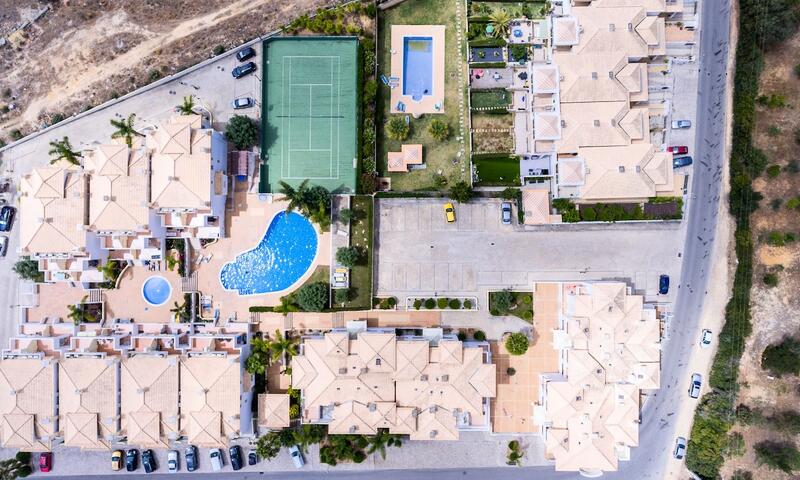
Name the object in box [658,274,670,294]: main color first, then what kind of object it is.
blue vehicle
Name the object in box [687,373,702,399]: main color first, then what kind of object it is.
white car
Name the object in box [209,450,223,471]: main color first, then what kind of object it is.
white vehicle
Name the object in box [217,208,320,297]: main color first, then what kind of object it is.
blue swimming pool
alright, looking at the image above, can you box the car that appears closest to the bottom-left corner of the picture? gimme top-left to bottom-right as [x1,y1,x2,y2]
[40,452,52,471]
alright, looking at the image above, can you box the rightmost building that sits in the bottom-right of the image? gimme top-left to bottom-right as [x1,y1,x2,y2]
[529,282,660,480]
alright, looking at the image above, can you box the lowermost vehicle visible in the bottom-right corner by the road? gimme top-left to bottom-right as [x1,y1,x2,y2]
[673,435,687,459]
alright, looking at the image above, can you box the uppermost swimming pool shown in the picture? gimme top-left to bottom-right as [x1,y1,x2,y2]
[390,25,445,118]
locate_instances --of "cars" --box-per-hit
[673,156,692,167]
[209,450,223,471]
[141,450,157,473]
[229,446,242,471]
[40,452,52,471]
[687,373,702,399]
[0,206,16,230]
[233,97,254,109]
[501,202,511,224]
[167,450,179,471]
[232,62,256,79]
[184,446,198,471]
[673,435,687,459]
[237,47,256,61]
[247,449,258,466]
[670,120,690,129]
[290,446,305,469]
[0,235,9,256]
[666,145,687,155]
[445,202,455,223]
[658,274,670,294]
[127,447,139,469]
[112,449,123,470]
